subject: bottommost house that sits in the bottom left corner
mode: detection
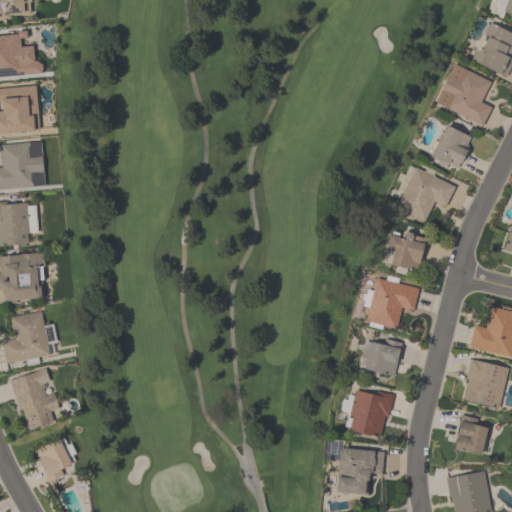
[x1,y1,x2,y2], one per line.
[38,440,76,483]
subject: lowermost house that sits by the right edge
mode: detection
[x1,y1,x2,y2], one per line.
[448,472,494,512]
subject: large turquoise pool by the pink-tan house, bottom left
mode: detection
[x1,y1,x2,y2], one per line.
[61,490,82,512]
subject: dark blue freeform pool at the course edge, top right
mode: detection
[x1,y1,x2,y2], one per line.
[471,21,488,40]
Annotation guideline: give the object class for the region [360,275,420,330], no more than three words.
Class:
house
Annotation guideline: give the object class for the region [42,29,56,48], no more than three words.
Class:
swimming pool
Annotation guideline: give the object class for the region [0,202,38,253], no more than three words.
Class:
house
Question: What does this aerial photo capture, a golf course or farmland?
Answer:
golf course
